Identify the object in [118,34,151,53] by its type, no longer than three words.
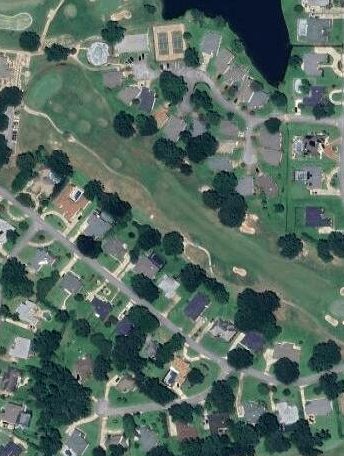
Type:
building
